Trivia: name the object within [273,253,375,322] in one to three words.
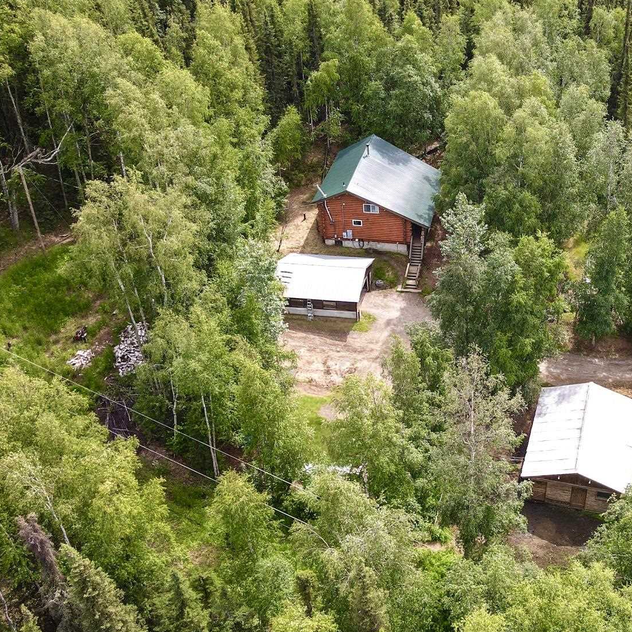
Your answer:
building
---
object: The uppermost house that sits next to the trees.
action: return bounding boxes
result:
[309,134,444,254]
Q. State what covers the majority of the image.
trees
